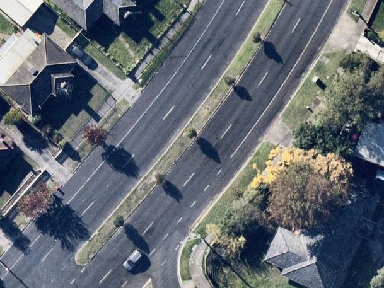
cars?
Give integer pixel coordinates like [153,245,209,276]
[72,45,97,70]
[122,247,144,274]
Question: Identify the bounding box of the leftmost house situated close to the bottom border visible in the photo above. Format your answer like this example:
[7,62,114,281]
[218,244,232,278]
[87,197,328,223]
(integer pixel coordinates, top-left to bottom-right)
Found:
[263,201,377,288]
